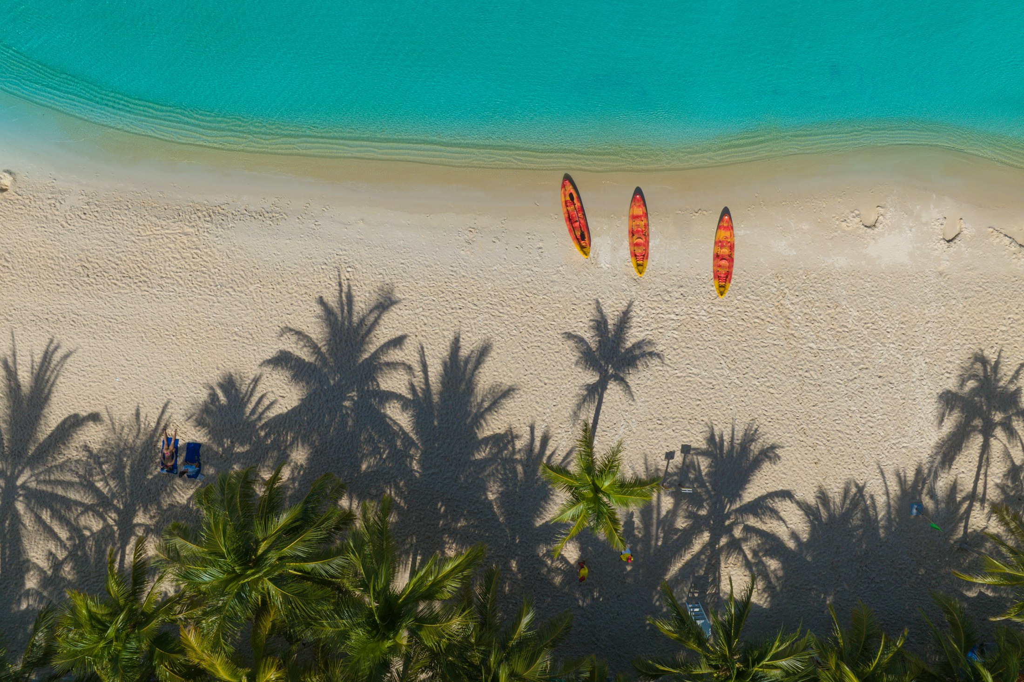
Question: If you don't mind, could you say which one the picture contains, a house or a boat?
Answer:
boat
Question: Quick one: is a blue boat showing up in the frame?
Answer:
No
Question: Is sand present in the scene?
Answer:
Yes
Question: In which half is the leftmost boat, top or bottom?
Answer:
top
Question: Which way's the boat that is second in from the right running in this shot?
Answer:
from top to bottom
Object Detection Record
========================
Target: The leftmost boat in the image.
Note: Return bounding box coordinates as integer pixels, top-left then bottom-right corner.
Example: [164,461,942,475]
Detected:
[561,177,590,260]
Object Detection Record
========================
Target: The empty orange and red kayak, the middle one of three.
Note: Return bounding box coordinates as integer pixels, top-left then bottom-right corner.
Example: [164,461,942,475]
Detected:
[629,193,650,278]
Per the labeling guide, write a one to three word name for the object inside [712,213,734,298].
boat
